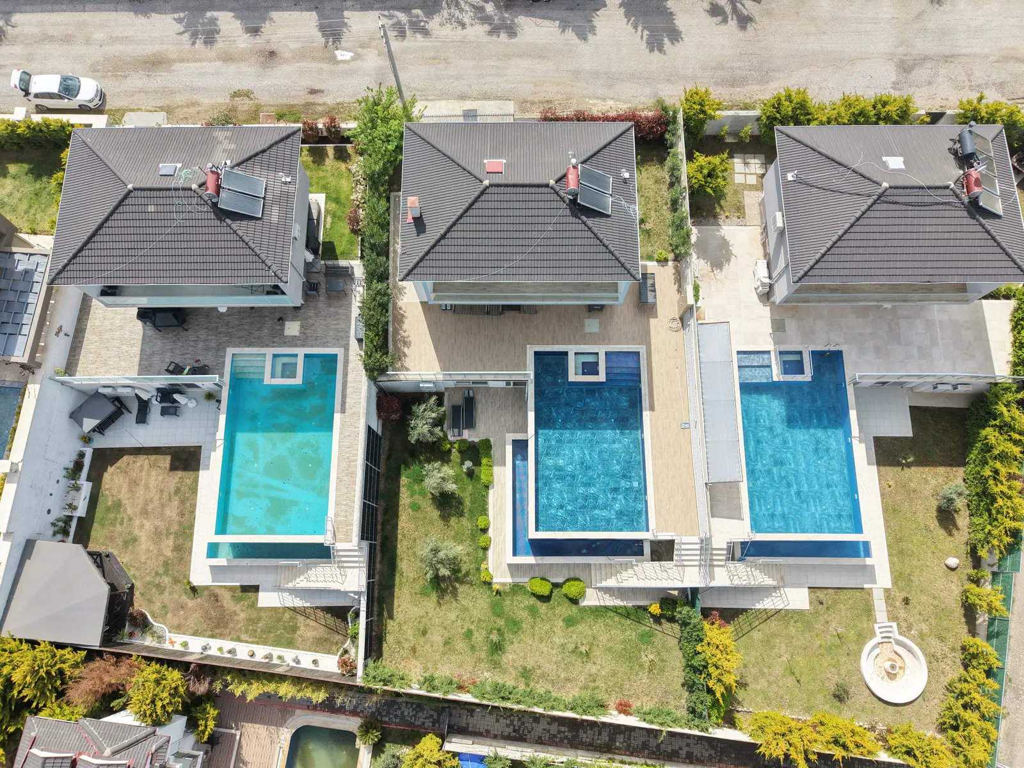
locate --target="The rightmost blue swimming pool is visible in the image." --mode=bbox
[725,346,874,564]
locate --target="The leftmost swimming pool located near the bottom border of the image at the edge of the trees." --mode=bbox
[278,714,373,768]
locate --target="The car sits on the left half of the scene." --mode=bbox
[6,68,104,114]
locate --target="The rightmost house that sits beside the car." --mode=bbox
[41,126,311,304]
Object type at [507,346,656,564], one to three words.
swimming pool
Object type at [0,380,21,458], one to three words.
swimming pool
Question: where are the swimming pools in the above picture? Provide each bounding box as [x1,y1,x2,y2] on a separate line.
[205,346,347,564]
[725,346,874,564]
[507,346,656,564]
[0,380,21,458]
[278,714,373,768]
